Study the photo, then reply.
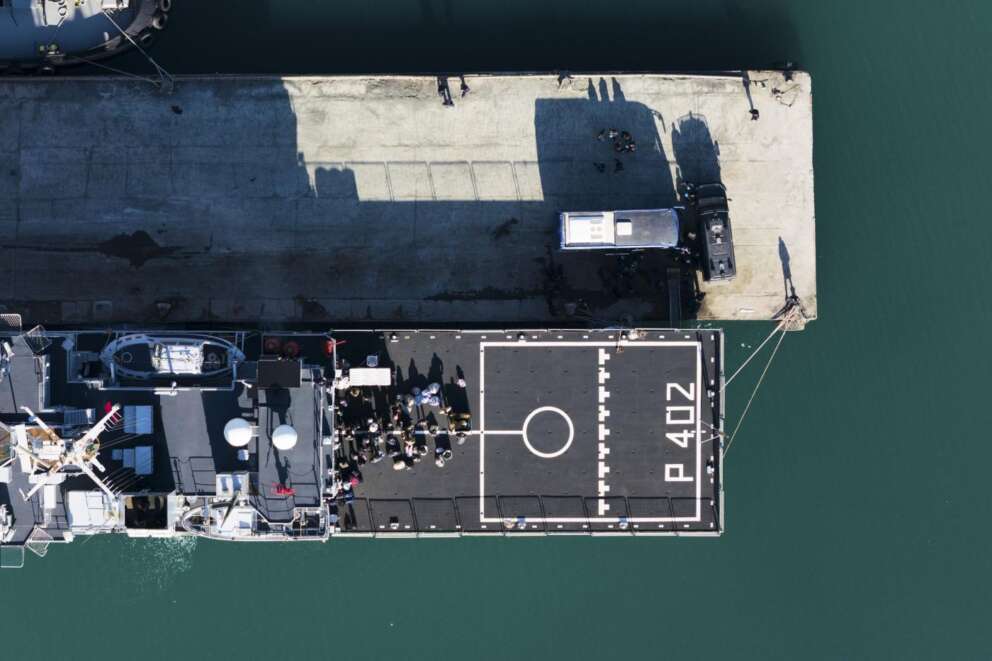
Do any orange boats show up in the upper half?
No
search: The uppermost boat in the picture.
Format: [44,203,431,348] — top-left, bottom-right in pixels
[0,0,170,74]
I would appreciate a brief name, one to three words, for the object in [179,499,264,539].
boat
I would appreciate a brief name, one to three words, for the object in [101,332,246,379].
boat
